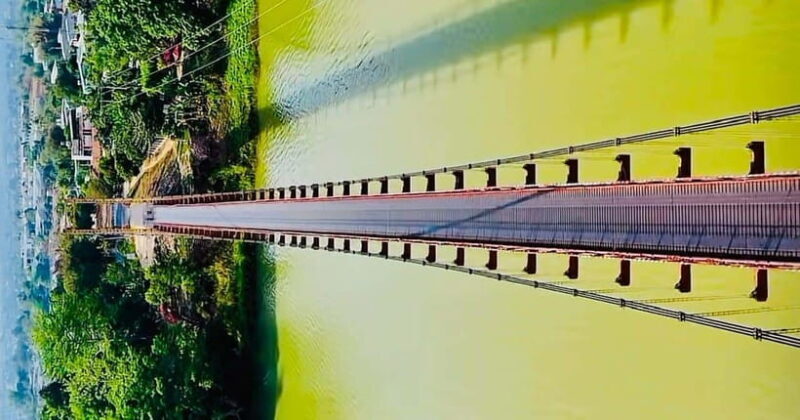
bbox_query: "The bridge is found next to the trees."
[66,104,800,346]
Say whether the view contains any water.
Yes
